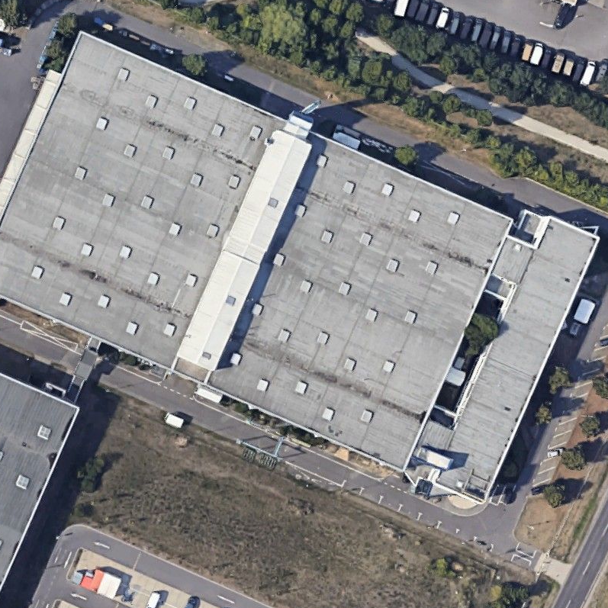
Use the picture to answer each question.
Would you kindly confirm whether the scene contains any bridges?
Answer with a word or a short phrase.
Yes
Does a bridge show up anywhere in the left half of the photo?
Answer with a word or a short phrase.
Yes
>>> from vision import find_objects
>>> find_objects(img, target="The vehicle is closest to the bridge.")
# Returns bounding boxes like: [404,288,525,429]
[163,414,186,428]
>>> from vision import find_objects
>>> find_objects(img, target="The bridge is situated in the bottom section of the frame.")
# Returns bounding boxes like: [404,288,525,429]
[67,338,100,403]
